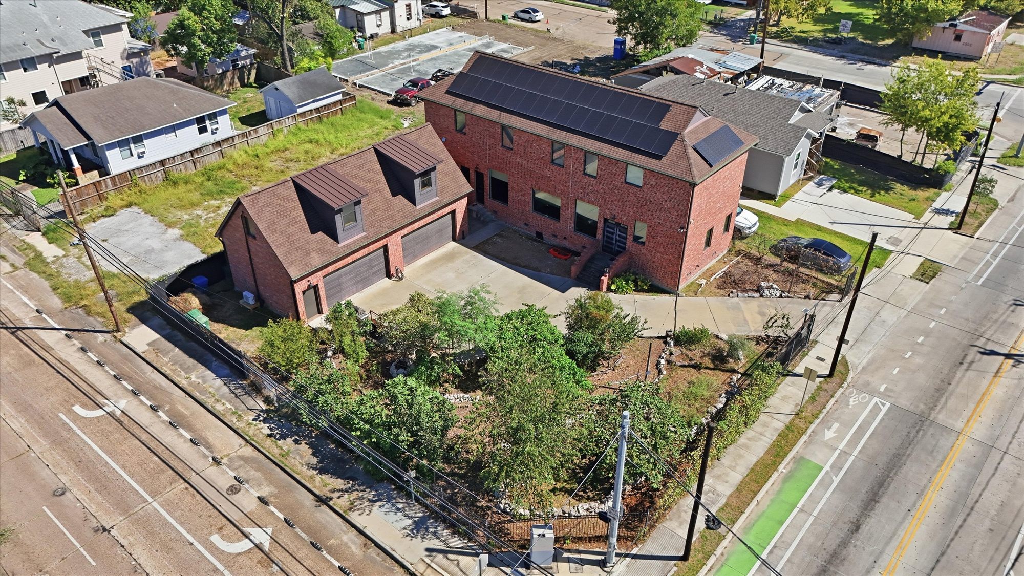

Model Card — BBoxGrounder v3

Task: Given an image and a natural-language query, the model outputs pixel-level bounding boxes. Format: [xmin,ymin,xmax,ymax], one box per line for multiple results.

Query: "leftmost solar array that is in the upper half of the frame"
[446,55,678,157]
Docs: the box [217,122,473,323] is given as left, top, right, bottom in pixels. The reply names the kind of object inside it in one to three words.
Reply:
building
